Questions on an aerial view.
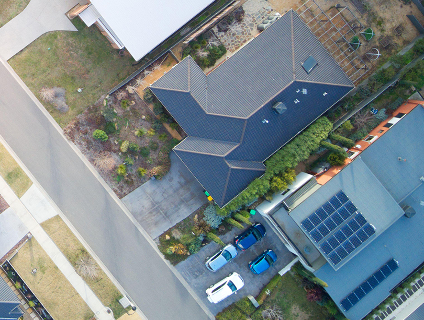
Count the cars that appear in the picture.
4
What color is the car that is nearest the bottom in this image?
white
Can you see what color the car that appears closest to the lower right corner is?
blue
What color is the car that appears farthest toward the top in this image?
blue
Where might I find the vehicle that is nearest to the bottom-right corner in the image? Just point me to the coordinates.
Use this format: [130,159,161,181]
[246,247,279,278]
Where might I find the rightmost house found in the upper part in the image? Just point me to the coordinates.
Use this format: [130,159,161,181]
[148,9,356,207]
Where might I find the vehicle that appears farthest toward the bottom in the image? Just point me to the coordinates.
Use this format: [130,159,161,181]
[205,272,247,307]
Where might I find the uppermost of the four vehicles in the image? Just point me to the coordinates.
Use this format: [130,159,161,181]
[233,222,270,254]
